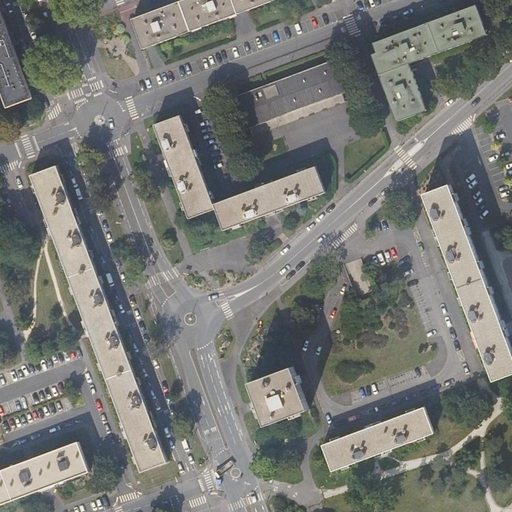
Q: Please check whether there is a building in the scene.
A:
Yes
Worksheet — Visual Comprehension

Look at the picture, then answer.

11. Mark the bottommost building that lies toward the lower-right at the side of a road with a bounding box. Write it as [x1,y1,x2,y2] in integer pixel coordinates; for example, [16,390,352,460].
[320,406,434,472]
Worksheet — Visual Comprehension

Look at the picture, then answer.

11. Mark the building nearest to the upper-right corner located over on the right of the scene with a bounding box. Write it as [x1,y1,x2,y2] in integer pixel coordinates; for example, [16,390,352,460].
[370,6,486,121]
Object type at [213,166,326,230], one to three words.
building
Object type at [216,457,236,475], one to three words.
vehicle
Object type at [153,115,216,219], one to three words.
building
